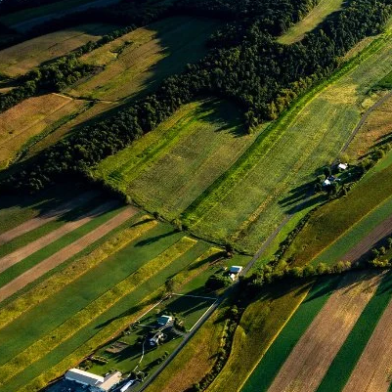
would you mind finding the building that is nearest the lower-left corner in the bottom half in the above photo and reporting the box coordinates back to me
[63,369,107,391]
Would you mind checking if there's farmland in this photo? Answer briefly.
Yes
